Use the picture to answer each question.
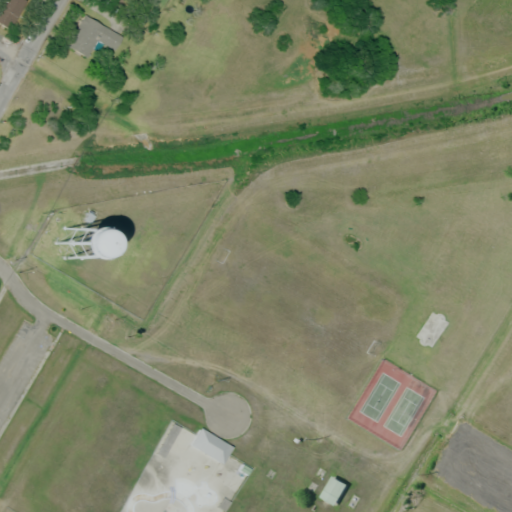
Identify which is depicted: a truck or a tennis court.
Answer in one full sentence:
Of the two, only a tennis court appears.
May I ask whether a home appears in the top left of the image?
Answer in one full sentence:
Yes, a home shows up in the top left of the image.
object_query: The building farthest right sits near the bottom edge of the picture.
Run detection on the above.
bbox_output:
[317,476,346,506]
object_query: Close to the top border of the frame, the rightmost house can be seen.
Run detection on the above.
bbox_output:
[72,15,122,57]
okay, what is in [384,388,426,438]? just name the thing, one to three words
tennis court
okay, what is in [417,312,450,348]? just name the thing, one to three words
sports court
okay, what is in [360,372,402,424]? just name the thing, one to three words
tennis court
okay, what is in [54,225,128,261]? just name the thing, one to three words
water tower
